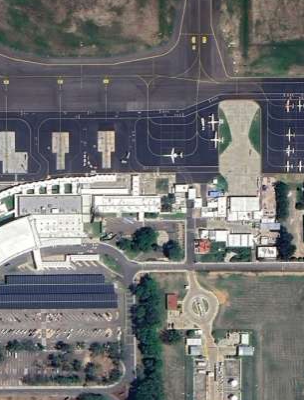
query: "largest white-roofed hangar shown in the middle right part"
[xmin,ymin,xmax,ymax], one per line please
[231,198,261,212]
